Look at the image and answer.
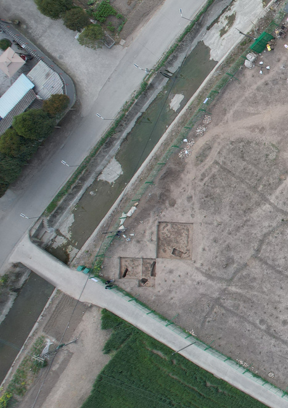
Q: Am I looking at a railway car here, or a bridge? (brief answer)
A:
bridge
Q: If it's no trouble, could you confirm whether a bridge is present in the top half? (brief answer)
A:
No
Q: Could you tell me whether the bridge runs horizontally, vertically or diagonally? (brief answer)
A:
diagonally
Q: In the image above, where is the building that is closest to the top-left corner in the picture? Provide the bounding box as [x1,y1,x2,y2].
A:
[0,47,37,78]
